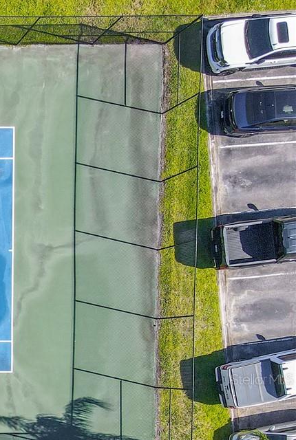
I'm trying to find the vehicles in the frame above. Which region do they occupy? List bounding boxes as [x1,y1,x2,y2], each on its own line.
[205,11,296,71]
[226,420,296,440]
[212,350,296,410]
[221,84,296,138]
[205,209,296,265]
